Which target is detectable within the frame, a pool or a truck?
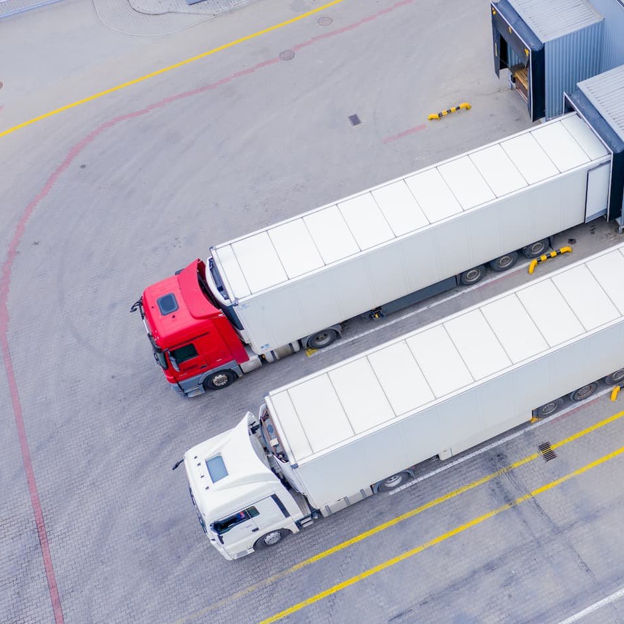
truck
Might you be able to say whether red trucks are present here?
Yes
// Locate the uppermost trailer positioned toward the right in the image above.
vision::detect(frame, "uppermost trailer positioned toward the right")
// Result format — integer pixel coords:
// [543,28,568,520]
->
[207,112,610,355]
